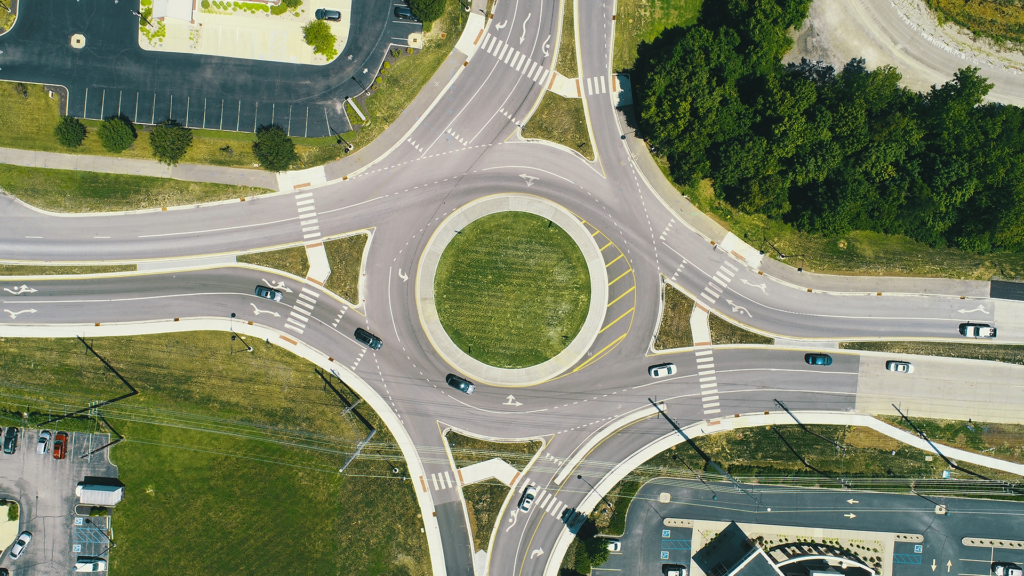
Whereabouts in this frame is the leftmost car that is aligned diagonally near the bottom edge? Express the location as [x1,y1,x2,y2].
[8,529,35,561]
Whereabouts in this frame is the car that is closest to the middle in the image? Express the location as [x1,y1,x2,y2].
[444,373,476,395]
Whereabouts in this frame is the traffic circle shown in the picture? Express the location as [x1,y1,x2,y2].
[362,140,663,439]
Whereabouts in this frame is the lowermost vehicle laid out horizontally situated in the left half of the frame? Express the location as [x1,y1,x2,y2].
[68,555,113,575]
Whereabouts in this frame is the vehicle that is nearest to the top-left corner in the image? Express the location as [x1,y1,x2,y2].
[314,6,343,23]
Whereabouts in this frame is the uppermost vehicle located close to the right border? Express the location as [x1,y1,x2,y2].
[961,323,1000,338]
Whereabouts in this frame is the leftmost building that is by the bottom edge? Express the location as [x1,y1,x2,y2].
[702,536,784,576]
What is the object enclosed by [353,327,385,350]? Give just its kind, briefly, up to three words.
car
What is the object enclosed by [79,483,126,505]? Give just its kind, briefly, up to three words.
truck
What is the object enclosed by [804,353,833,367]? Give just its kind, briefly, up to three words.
car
